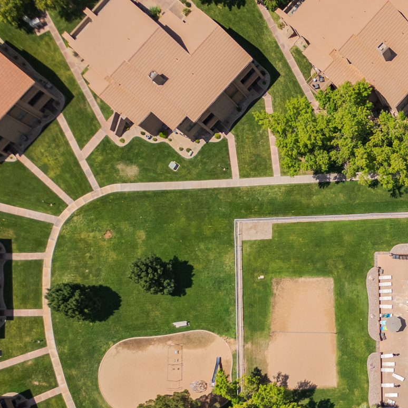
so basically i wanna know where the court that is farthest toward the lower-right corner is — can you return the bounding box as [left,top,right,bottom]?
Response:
[265,277,336,389]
